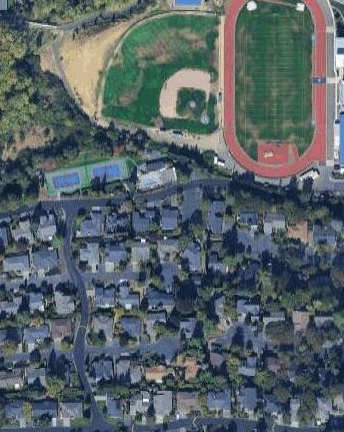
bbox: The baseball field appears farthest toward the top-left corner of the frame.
[102,14,220,135]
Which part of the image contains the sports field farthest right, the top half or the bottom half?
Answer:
top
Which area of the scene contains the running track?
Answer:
top right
